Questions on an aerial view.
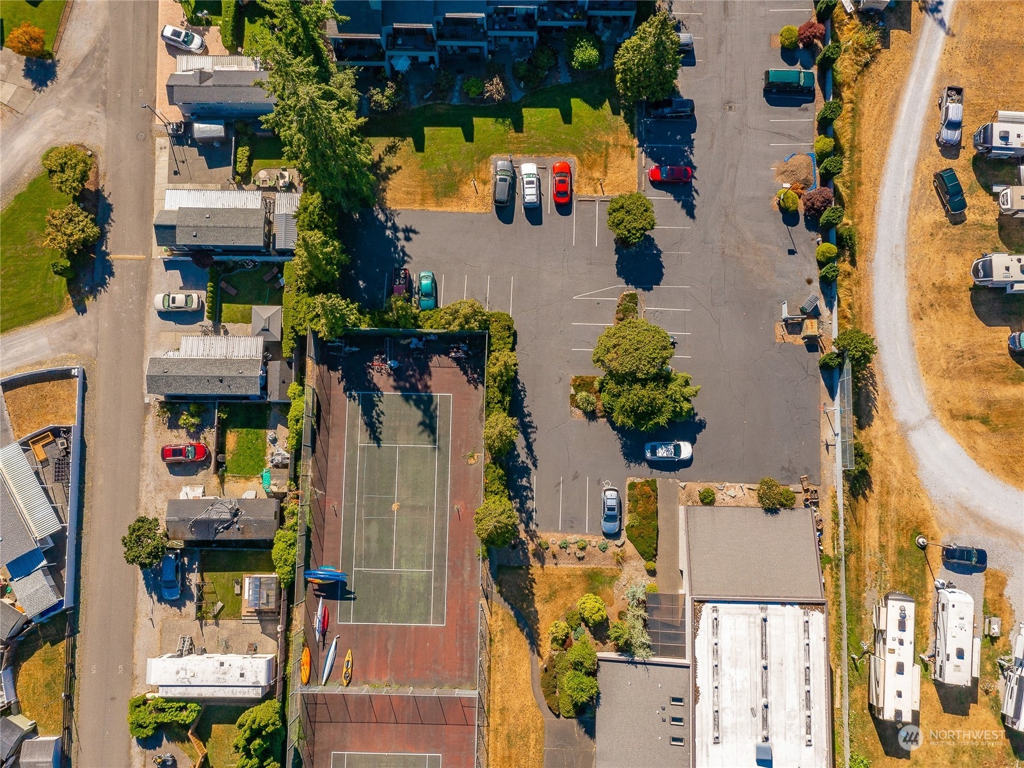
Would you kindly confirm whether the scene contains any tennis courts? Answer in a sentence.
Yes, I can see a tennis court in this picture.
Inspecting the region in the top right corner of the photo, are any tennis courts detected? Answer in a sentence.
No, no tennis court can be made out in the top right corner of the photo.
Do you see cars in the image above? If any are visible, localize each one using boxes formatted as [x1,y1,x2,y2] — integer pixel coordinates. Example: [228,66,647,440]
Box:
[600,485,623,535]
[929,167,965,215]
[551,164,573,205]
[159,549,186,599]
[163,442,212,464]
[493,164,515,208]
[760,70,813,94]
[643,440,692,462]
[519,167,541,210]
[157,292,205,313]
[162,27,208,57]
[1009,334,1024,352]
[416,271,437,309]
[647,99,695,122]
[647,164,693,185]
[937,547,985,569]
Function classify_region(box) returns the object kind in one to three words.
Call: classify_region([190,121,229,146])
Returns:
trailer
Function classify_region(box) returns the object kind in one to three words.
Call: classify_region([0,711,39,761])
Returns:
shed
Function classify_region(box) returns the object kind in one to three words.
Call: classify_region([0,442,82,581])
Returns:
house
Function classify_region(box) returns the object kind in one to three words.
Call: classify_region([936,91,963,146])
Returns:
truck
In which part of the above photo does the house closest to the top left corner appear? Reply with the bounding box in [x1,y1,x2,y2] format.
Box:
[164,70,283,113]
